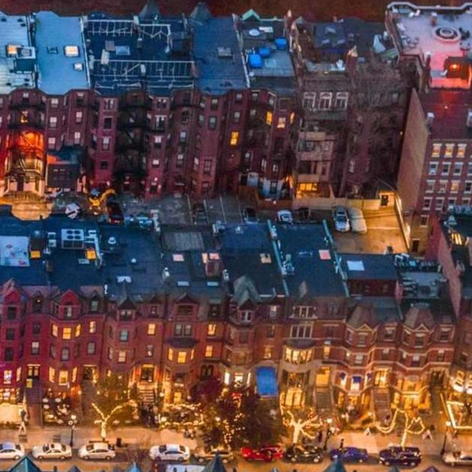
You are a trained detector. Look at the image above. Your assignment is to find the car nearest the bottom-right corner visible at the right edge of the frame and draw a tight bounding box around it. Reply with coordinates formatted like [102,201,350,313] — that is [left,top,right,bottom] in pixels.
[441,451,472,470]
